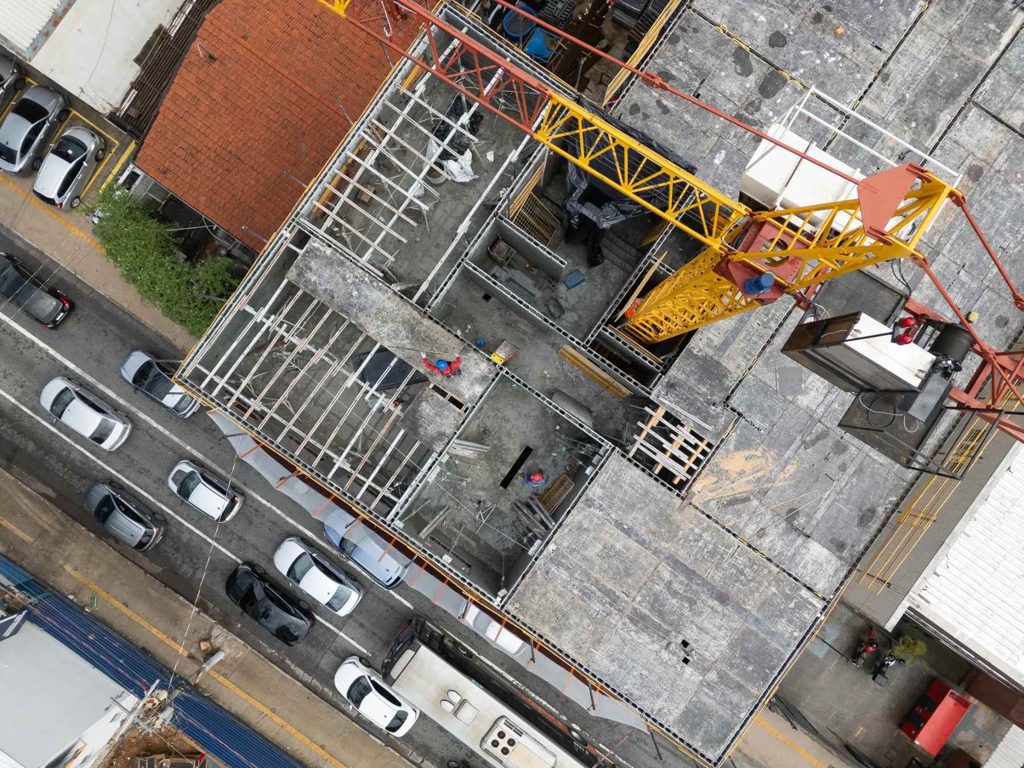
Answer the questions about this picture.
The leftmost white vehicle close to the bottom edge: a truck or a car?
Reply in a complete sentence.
In the photo, the leftmost white vehicle close to the bottom edge shows up as a car.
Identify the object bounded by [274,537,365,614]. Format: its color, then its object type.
white car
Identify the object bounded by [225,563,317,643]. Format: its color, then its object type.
black car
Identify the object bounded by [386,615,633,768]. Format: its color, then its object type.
white bus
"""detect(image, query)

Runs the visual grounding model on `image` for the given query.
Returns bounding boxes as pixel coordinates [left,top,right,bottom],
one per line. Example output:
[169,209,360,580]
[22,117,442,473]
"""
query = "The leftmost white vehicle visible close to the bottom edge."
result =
[334,656,420,734]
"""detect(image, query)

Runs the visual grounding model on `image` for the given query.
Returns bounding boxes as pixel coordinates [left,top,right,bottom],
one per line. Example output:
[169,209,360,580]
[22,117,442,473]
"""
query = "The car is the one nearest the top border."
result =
[0,47,41,130]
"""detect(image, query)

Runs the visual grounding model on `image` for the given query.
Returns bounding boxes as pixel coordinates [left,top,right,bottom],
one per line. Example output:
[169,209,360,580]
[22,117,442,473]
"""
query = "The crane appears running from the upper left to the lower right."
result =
[310,0,1024,481]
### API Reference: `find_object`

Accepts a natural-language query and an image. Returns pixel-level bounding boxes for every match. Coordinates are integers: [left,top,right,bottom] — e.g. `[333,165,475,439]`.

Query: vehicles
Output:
[168,457,247,524]
[386,615,633,768]
[0,248,79,329]
[872,647,904,694]
[334,656,420,734]
[84,479,172,553]
[119,349,209,423]
[0,86,78,177]
[320,519,403,587]
[29,128,110,209]
[452,612,523,666]
[0,47,41,130]
[225,563,317,643]
[852,628,882,669]
[43,376,136,451]
[274,537,365,614]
